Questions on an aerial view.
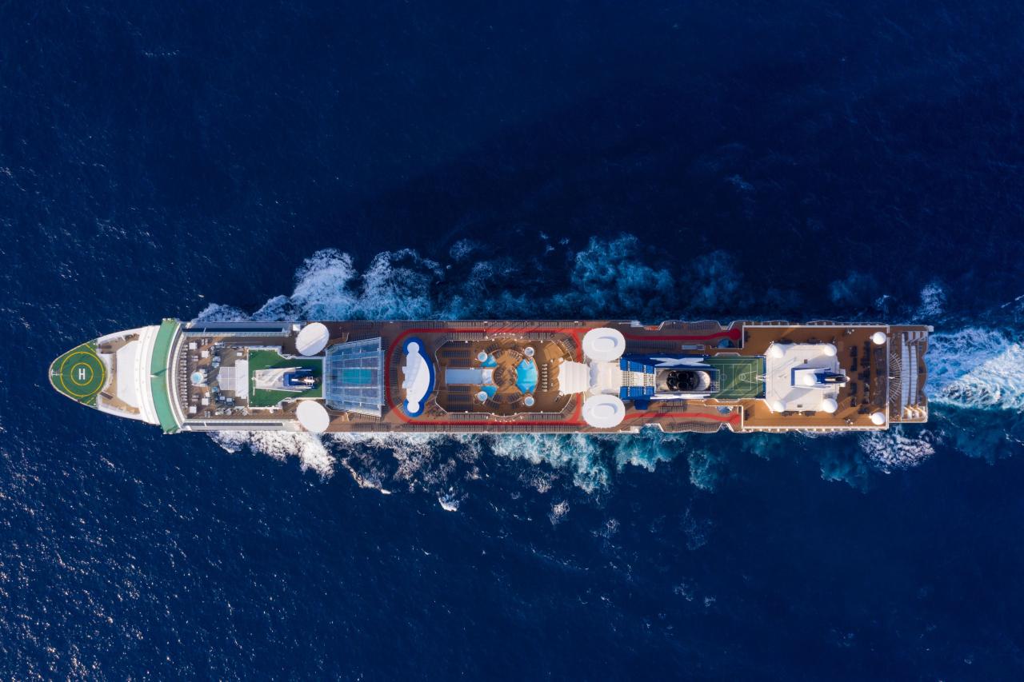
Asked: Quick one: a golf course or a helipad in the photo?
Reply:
helipad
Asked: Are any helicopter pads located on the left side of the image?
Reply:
Yes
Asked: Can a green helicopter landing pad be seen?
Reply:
Yes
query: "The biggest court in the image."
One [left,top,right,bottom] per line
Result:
[705,352,764,402]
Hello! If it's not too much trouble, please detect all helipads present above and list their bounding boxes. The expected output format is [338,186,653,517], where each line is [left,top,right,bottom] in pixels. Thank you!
[50,338,107,409]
